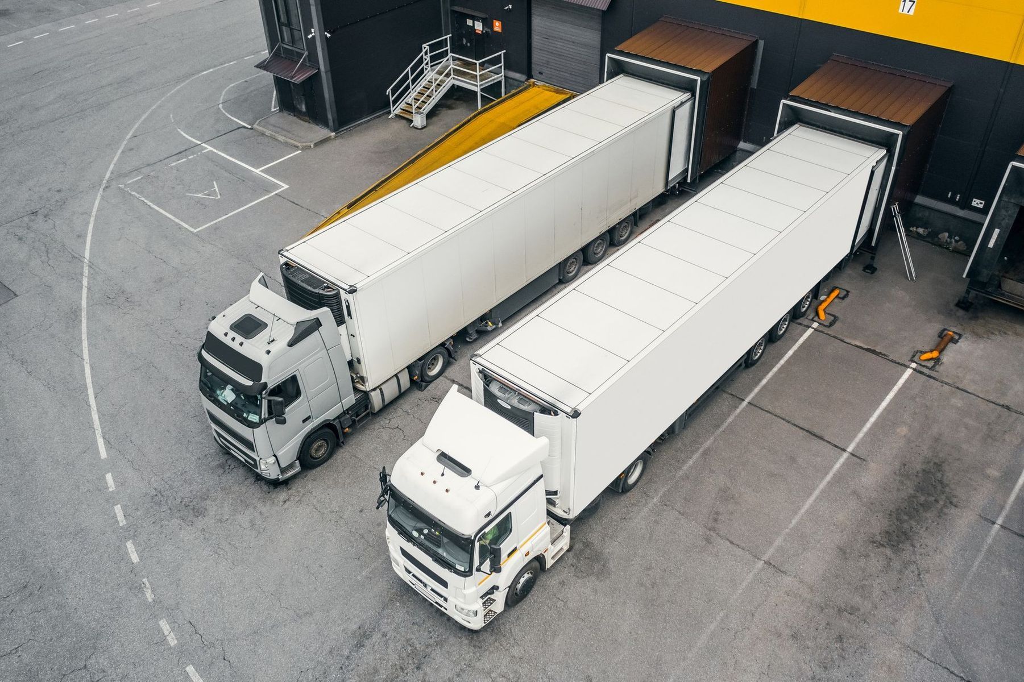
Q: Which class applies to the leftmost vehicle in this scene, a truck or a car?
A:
truck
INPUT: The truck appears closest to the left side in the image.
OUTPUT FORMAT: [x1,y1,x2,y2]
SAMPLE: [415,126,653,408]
[188,267,451,481]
